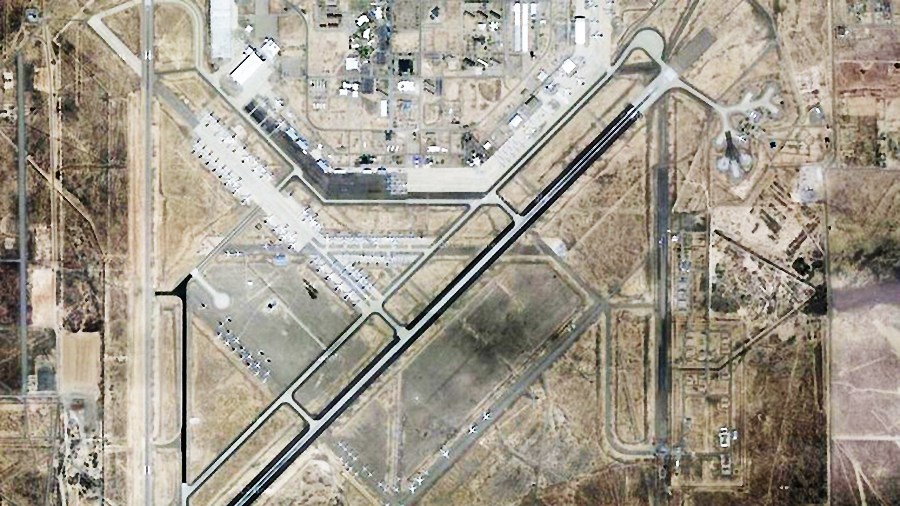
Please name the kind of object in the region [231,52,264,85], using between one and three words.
hangar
